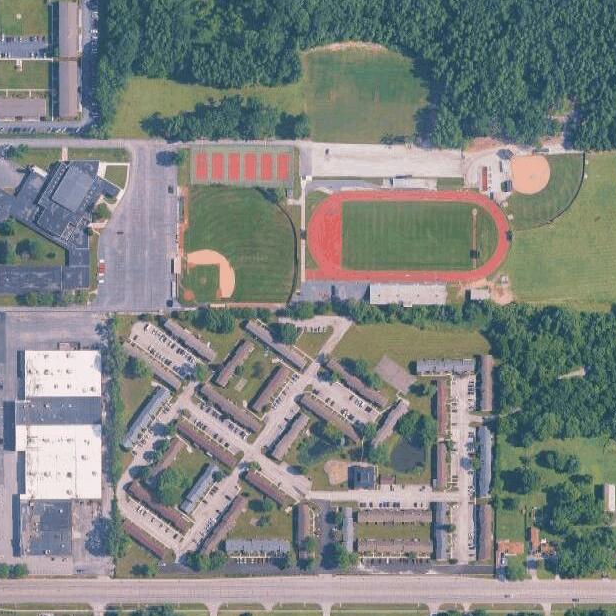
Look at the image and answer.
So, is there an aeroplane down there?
No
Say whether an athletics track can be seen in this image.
Yes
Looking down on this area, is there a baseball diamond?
Yes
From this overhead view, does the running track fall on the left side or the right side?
right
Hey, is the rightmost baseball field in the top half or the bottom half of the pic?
top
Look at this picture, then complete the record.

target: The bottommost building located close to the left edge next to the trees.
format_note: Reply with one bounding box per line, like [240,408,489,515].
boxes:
[21,499,72,556]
